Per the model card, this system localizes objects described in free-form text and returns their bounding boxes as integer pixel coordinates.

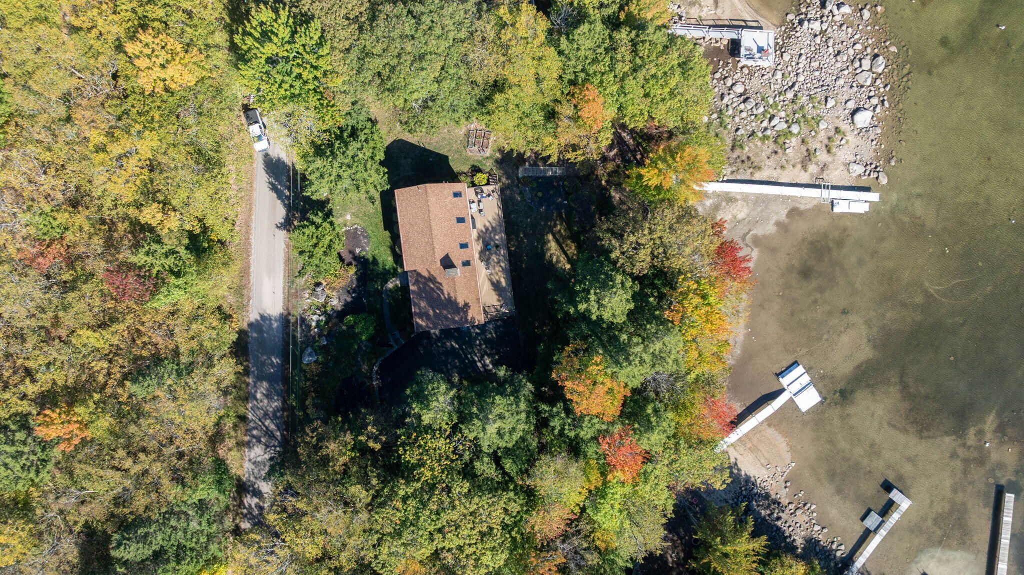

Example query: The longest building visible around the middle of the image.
[392,181,485,332]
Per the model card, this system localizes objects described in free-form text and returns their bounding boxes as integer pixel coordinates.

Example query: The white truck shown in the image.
[243,106,271,155]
